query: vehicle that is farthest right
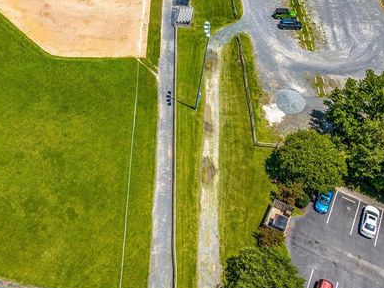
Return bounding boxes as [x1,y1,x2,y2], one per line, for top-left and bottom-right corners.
[358,204,381,240]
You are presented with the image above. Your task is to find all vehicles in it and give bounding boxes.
[358,204,381,240]
[276,18,304,32]
[272,7,296,20]
[313,187,335,217]
[316,272,336,288]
